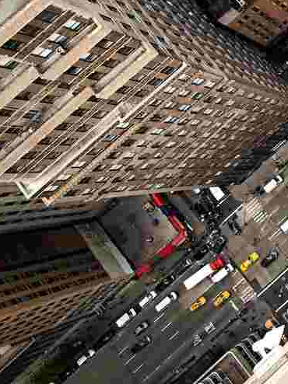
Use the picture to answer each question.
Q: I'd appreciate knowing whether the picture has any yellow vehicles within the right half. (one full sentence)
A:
Yes, within the right half there is a yellow vehicle.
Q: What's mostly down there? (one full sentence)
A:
The largest share of the image is taken up by buildings.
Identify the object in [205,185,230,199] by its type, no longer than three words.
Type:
vehicle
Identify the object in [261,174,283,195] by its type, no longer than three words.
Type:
vehicle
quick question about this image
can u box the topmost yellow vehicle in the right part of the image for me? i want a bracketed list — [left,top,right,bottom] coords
[240,252,260,271]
